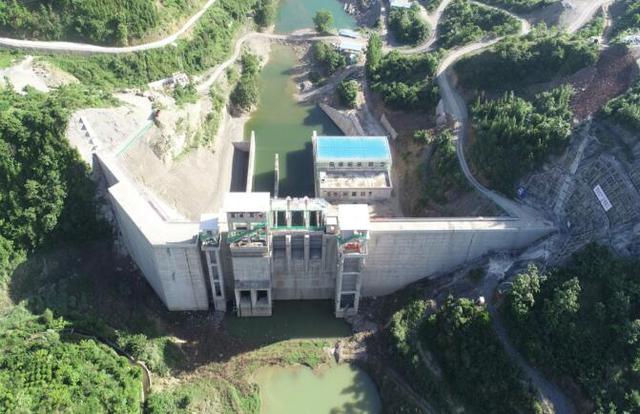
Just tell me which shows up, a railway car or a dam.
dam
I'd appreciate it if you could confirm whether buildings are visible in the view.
Yes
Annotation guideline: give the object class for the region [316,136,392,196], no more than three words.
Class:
building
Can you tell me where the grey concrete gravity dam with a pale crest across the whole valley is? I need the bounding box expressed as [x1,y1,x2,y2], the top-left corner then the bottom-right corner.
[96,148,543,313]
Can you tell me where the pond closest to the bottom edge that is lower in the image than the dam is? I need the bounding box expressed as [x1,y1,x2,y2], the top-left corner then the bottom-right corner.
[251,360,382,414]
